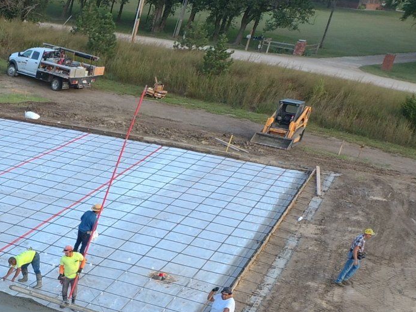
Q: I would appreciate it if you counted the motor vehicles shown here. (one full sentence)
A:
The number of motor vehicles here is 2.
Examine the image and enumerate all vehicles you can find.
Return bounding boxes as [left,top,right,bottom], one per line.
[18,49,105,91]
[252,95,325,150]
